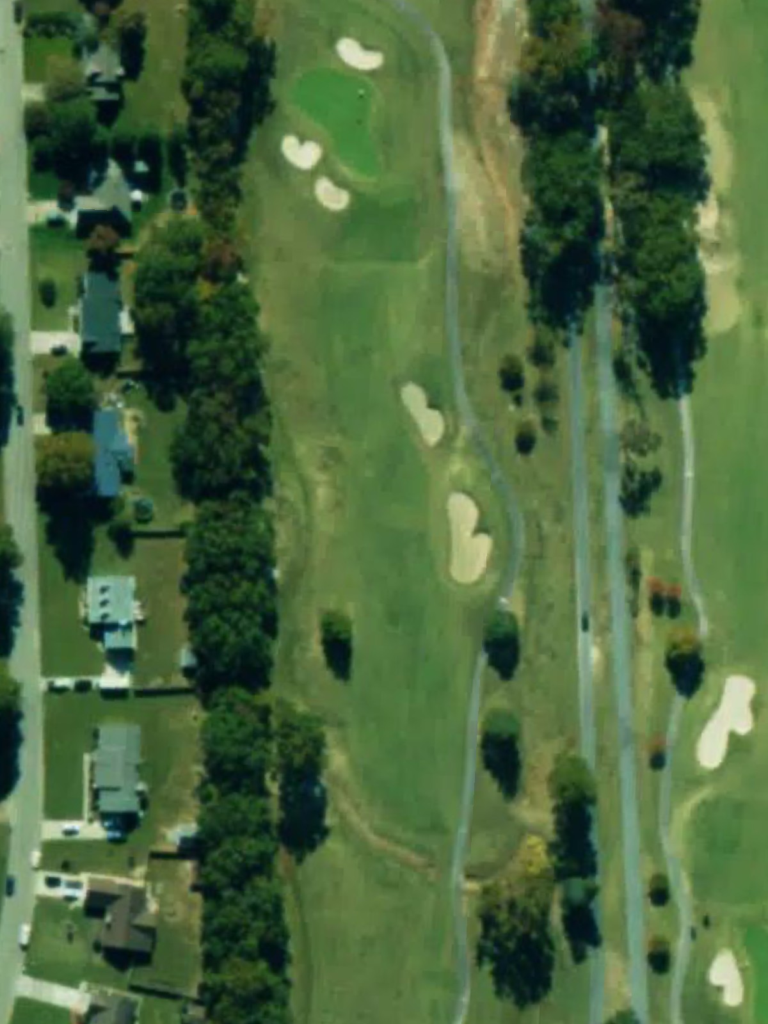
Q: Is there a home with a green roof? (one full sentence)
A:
Yes, a home with a green roof can be made out from above.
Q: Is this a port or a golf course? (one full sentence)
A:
This looks like a golf course.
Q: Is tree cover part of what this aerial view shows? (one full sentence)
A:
Yes, the picture does contain tree cover.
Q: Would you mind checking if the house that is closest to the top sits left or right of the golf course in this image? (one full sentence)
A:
The golf course has the house that is closest to the top on its left side.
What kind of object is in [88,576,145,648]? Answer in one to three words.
house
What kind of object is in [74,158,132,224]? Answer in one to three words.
house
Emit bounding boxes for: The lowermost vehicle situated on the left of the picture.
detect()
[18,923,30,948]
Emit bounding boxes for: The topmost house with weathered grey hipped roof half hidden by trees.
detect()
[83,37,122,100]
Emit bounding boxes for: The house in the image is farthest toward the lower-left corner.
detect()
[86,990,144,1024]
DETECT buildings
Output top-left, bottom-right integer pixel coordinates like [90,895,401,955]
[177,836,194,857]
[94,410,133,495]
[181,647,195,668]
[83,37,122,100]
[81,270,133,352]
[74,158,132,224]
[88,576,145,648]
[94,724,148,812]
[86,874,158,950]
[86,990,144,1024]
